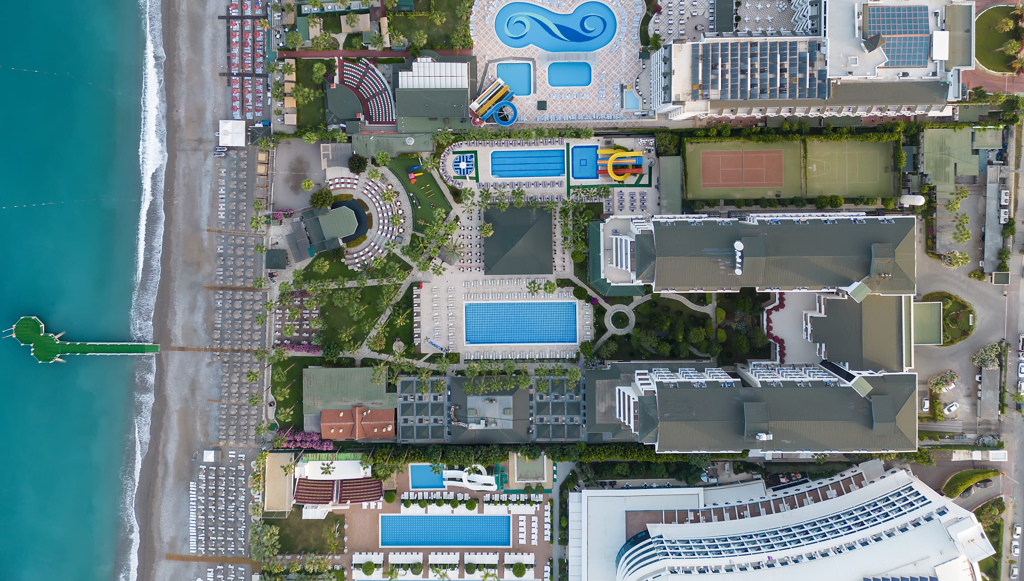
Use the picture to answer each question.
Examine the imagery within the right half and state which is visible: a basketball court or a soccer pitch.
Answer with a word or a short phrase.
basketball court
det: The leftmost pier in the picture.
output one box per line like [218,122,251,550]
[2,316,162,363]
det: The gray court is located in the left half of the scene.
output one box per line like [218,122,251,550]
[272,138,327,210]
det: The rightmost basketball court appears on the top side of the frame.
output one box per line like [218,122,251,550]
[807,141,894,198]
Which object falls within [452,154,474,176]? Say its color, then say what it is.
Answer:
blue swimming pool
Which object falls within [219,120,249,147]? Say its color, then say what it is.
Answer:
white tent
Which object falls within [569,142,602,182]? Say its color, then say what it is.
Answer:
blue swimming pool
